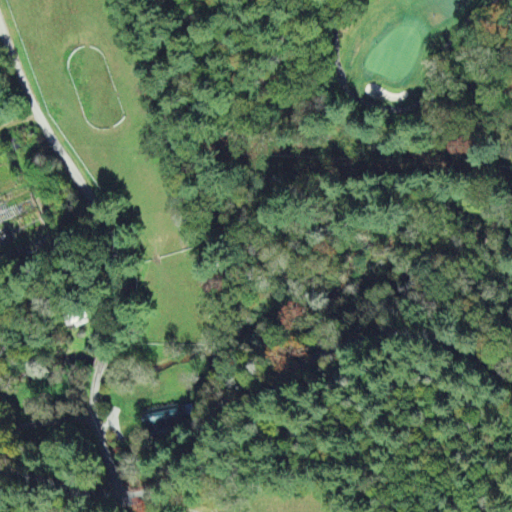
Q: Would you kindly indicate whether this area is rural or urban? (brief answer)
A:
rural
